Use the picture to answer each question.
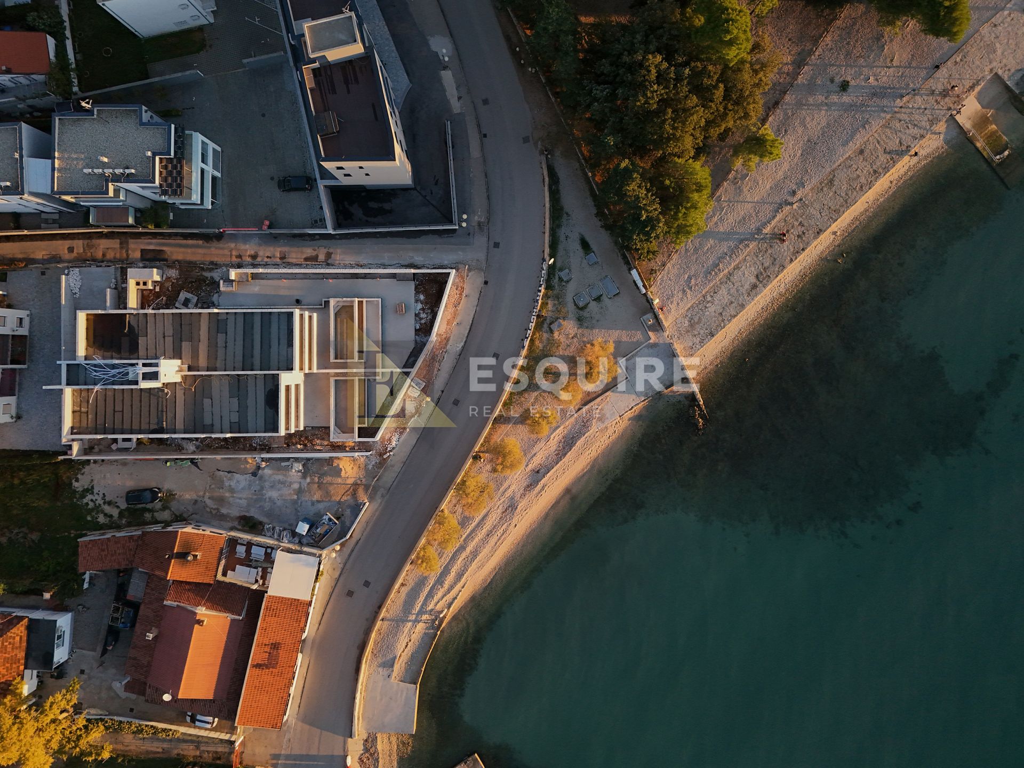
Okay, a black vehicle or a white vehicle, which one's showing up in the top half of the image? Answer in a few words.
black vehicle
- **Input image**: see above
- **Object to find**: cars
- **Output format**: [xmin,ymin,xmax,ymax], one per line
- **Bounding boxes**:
[184,712,217,733]
[276,172,312,191]
[121,487,160,506]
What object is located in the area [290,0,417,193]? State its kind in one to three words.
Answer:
building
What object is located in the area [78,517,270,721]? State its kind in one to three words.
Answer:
house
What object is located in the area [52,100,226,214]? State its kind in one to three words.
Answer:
building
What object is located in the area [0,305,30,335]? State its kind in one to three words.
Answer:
house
